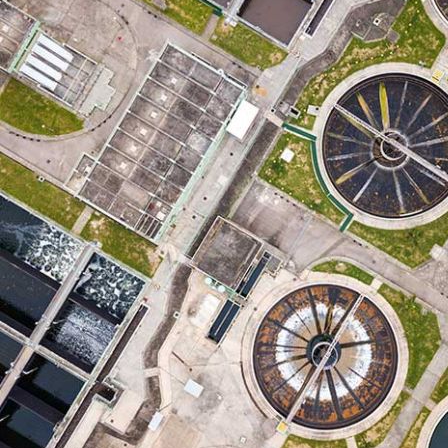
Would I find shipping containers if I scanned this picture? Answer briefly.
No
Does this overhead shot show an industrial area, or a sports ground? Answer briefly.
industrial area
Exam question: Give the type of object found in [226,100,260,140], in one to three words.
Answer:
shed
